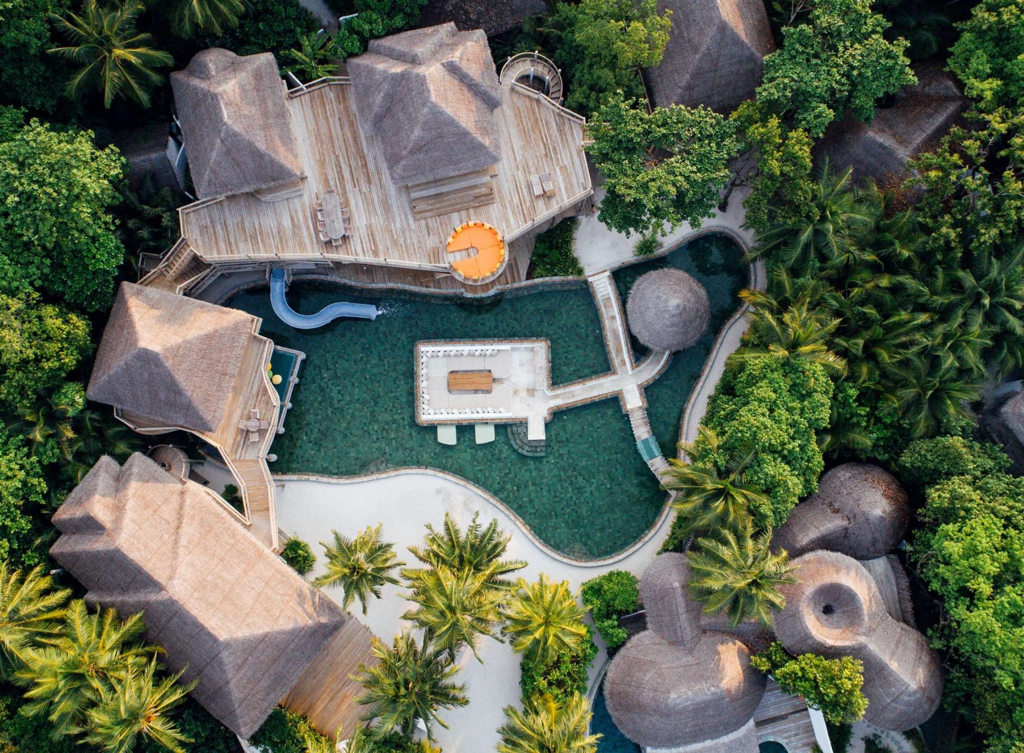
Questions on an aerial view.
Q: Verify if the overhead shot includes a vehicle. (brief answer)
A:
No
